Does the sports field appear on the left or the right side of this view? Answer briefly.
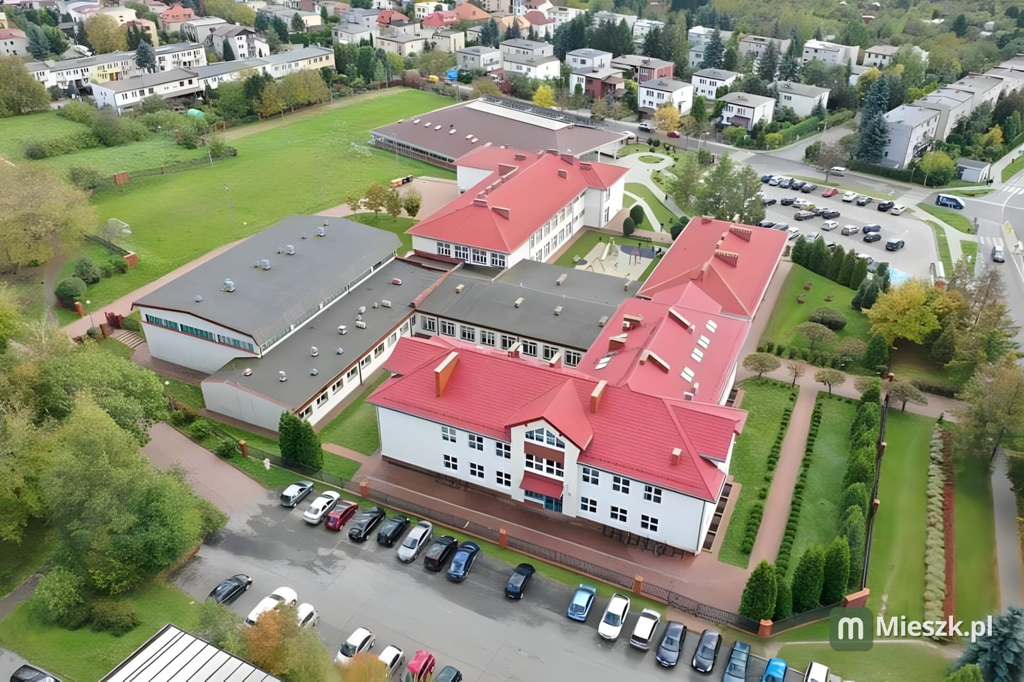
left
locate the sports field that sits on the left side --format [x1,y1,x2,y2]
[57,88,457,331]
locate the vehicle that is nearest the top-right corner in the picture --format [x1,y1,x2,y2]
[932,190,968,211]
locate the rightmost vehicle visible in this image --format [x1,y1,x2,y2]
[989,247,1005,263]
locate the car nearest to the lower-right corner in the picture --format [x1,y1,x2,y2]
[799,655,833,682]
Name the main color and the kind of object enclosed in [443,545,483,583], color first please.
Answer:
blue car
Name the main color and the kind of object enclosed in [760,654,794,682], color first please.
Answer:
blue car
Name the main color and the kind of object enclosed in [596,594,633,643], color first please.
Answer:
white car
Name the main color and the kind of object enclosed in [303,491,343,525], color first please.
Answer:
white car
